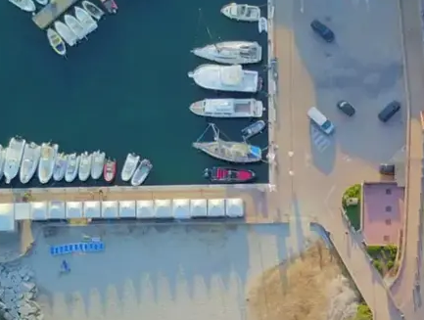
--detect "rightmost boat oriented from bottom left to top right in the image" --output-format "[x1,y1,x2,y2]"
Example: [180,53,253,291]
[234,121,265,140]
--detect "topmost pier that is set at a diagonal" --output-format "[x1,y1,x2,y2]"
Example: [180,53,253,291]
[33,0,73,29]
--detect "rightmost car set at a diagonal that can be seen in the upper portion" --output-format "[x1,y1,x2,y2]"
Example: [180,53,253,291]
[376,100,403,123]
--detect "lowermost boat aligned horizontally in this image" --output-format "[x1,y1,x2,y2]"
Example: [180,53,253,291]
[202,165,254,184]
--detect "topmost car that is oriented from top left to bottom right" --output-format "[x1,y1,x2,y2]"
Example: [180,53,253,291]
[307,16,337,44]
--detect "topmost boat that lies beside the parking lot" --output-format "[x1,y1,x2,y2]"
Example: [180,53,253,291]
[220,1,269,24]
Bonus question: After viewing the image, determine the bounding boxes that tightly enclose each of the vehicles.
[376,100,403,123]
[335,97,358,119]
[305,104,335,133]
[307,16,337,44]
[377,163,399,175]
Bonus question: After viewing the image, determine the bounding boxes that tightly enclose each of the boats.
[53,149,69,186]
[133,155,154,186]
[234,121,265,140]
[38,139,59,187]
[202,165,254,184]
[0,143,7,182]
[10,0,36,11]
[64,148,82,189]
[191,24,263,63]
[54,22,81,50]
[220,1,269,24]
[190,96,270,120]
[100,0,119,16]
[121,149,141,186]
[73,4,101,34]
[104,153,118,188]
[84,0,107,23]
[187,61,264,95]
[77,147,93,188]
[90,146,107,180]
[192,136,268,165]
[47,28,70,59]
[2,133,27,187]
[21,140,41,185]
[64,13,89,42]
[257,15,267,36]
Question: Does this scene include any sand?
Yes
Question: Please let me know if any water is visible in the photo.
Yes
